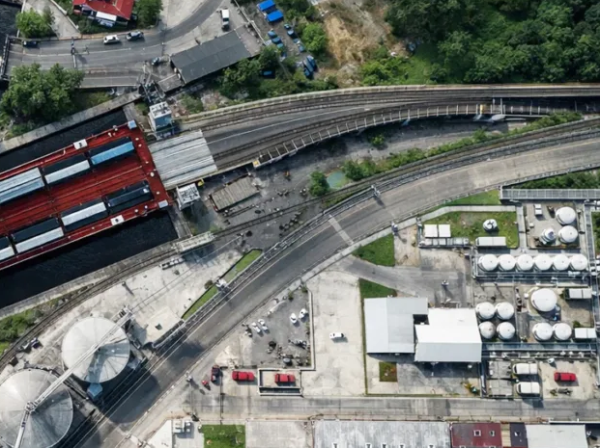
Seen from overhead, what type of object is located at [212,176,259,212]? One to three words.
shed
